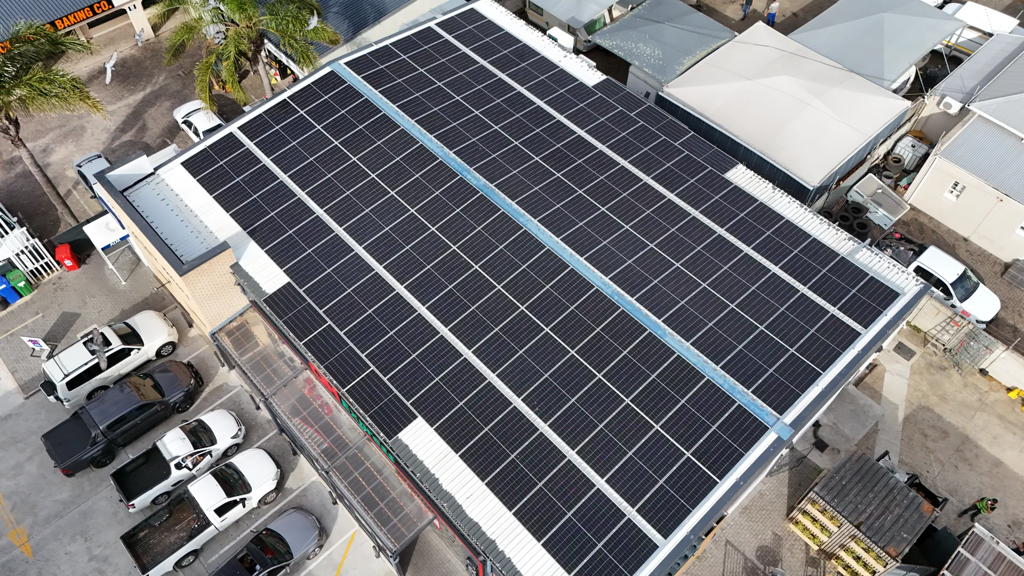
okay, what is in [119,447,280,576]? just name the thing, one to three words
vehicle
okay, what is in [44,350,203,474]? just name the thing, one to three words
vehicle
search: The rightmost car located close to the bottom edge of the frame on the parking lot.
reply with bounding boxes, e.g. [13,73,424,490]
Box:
[201,509,322,576]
